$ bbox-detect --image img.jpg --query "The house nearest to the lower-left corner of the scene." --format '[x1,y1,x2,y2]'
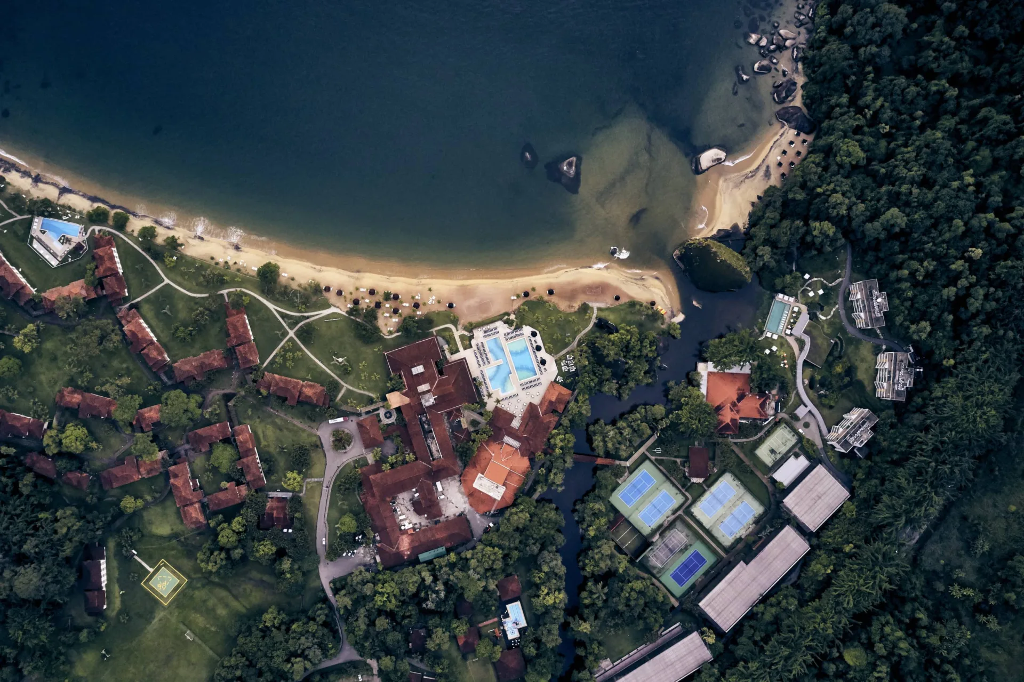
[83,542,111,613]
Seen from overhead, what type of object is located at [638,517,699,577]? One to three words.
tennis court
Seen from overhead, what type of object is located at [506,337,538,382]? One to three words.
swimming pool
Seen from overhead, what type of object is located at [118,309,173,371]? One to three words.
house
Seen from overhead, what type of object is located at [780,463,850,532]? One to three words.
shed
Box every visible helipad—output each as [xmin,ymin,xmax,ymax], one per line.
[141,559,188,605]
